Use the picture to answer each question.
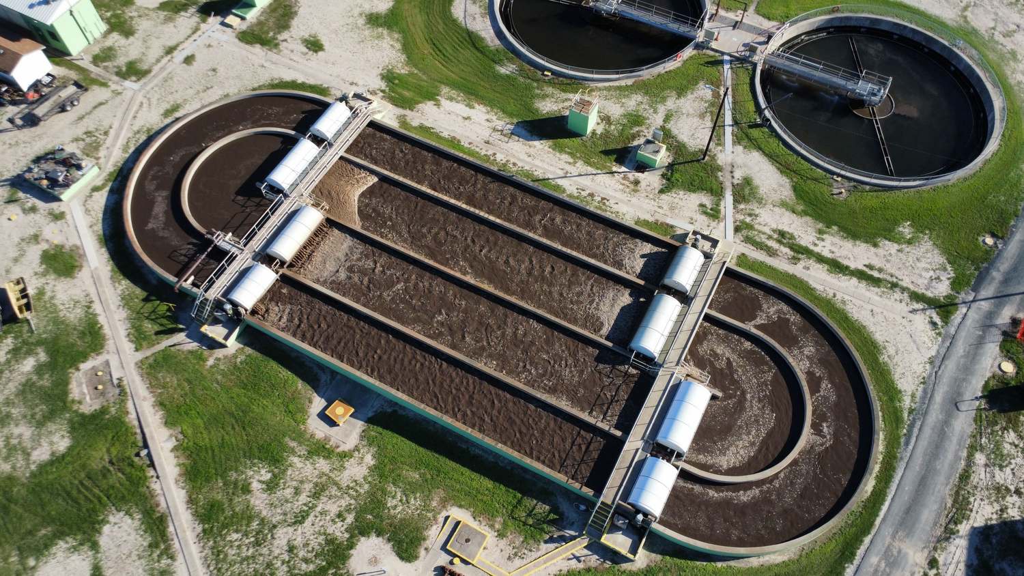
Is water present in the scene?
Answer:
Yes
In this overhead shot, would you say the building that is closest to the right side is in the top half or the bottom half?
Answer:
top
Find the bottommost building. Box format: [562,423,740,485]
[636,140,666,167]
